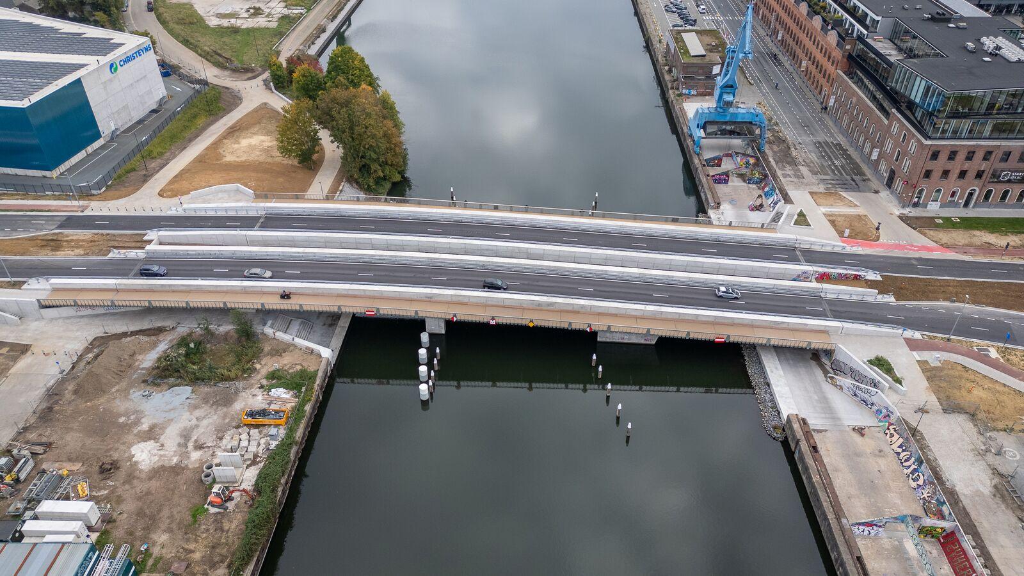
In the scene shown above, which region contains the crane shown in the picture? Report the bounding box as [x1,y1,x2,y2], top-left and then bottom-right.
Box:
[688,0,771,155]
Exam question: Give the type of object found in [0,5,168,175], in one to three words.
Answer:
building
